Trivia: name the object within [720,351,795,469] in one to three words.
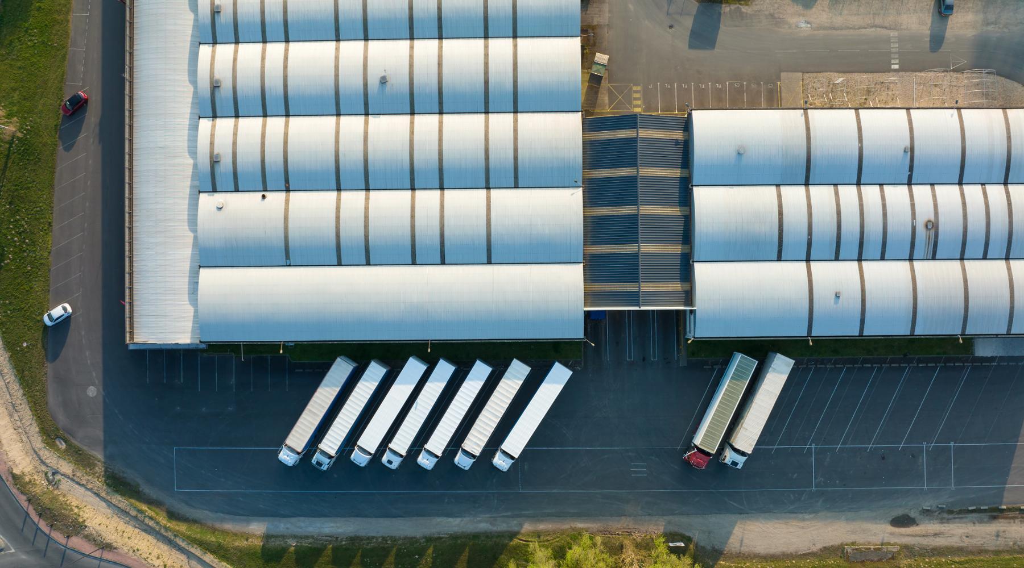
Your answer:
truck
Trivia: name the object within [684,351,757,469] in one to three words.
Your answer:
truck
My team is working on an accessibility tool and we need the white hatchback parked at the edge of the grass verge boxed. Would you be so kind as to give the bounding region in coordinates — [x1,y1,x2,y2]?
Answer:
[41,303,72,326]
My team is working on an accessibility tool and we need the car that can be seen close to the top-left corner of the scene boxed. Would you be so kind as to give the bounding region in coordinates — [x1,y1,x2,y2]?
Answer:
[59,89,88,113]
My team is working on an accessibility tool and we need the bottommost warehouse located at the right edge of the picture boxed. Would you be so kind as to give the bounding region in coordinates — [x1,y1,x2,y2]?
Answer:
[683,106,1024,343]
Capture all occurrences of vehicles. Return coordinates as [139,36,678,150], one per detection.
[720,351,795,469]
[278,355,359,467]
[684,351,757,469]
[310,357,392,470]
[415,357,493,470]
[490,359,572,471]
[59,89,88,113]
[349,355,430,468]
[935,0,952,15]
[381,356,458,470]
[452,357,531,470]
[41,303,72,326]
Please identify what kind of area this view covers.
industrial area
